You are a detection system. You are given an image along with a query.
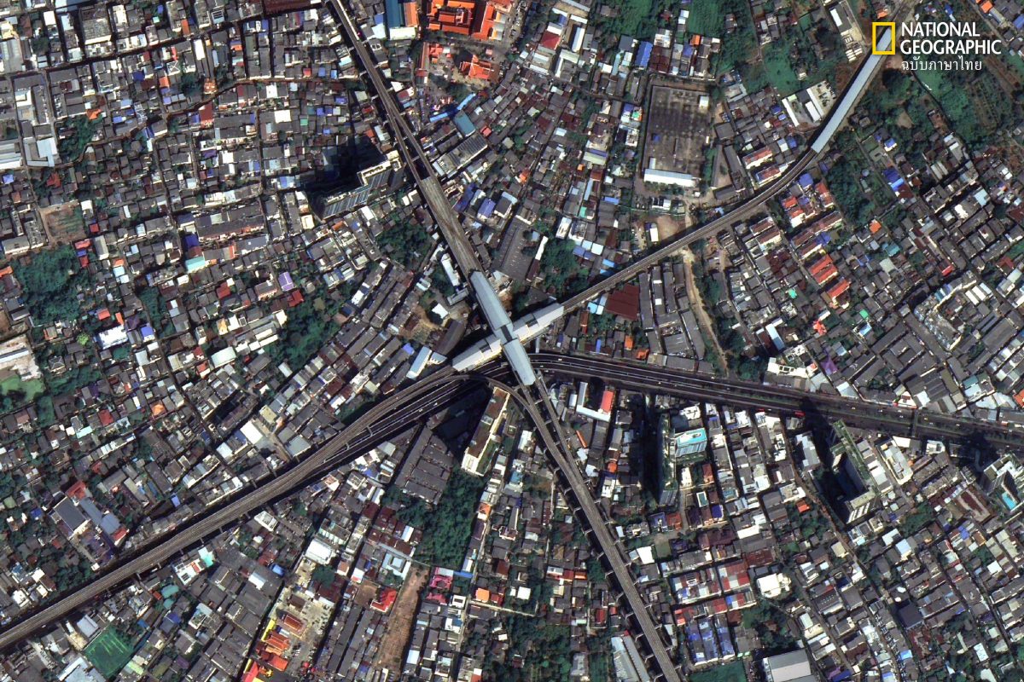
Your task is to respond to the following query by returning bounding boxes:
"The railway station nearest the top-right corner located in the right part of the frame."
[811,29,895,151]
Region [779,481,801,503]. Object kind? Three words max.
building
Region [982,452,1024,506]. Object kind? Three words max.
building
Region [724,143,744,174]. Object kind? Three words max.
house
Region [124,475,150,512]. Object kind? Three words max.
house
